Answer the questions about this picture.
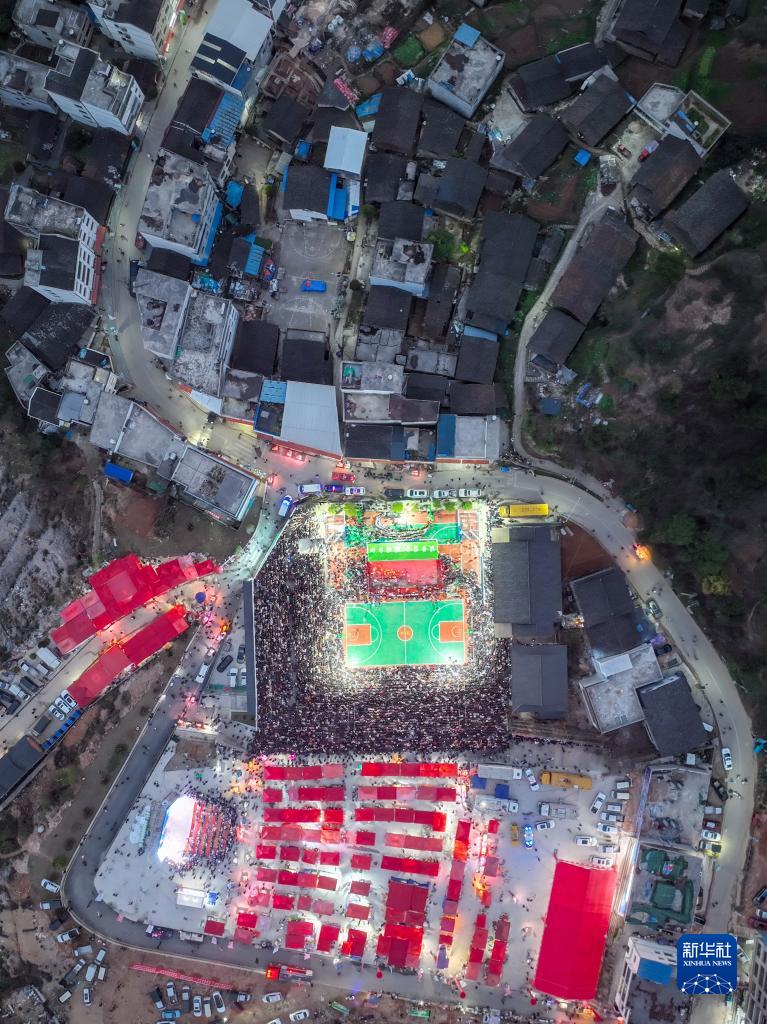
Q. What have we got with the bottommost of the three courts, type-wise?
basketball court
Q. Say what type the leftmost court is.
basketball court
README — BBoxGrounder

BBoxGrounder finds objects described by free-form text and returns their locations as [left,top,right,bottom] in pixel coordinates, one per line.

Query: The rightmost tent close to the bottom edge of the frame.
[530,854,617,1000]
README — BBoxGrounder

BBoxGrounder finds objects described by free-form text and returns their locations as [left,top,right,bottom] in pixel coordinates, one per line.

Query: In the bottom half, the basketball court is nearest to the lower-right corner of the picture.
[346,601,466,667]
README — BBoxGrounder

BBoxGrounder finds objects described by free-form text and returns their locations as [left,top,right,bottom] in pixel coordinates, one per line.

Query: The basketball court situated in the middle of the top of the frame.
[278,224,345,332]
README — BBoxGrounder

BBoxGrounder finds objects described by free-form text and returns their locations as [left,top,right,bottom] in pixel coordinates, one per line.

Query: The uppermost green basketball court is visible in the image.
[330,511,479,588]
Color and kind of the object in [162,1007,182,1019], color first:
blue vehicle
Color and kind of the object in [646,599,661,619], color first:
gray car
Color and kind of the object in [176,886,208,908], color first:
white tent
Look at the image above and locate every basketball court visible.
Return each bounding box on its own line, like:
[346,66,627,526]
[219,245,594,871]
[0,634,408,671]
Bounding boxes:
[330,511,479,588]
[346,601,466,667]
[278,224,345,332]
